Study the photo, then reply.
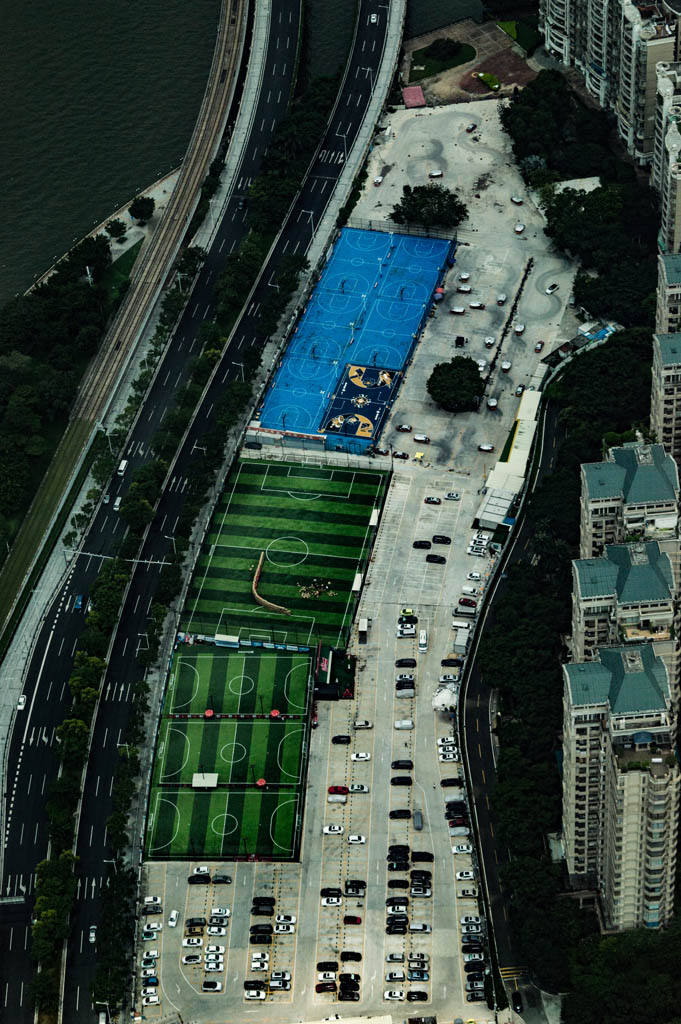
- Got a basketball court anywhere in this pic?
Yes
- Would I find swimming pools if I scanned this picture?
No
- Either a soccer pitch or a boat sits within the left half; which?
soccer pitch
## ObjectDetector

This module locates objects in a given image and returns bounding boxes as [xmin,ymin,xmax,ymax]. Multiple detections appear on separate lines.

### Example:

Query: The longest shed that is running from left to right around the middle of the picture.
[244,429,327,453]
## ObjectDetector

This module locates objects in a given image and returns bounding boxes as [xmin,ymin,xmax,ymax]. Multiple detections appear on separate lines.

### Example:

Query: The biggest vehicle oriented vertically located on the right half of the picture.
[454,629,467,655]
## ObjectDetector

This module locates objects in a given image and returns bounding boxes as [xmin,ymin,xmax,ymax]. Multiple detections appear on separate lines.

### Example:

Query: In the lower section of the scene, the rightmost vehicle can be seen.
[511,991,523,1011]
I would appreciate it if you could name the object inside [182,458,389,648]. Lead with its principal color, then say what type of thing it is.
green soccer field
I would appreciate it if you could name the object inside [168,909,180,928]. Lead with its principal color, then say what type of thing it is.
white vehicle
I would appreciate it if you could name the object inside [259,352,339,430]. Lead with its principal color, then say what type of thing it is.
blue basketball court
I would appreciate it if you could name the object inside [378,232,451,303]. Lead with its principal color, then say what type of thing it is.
blue basketball court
